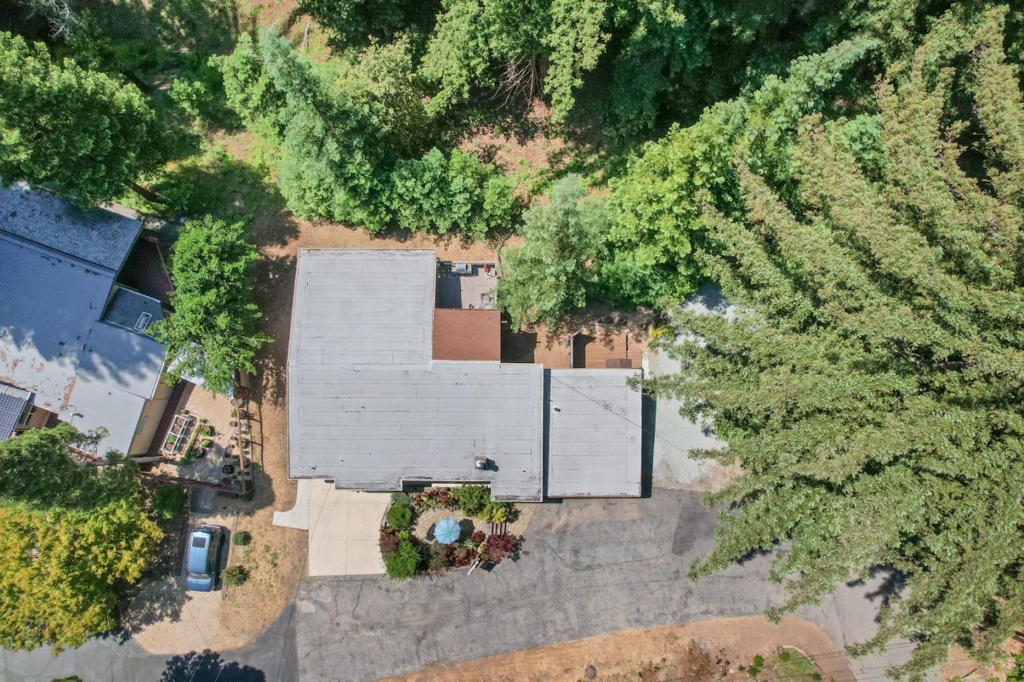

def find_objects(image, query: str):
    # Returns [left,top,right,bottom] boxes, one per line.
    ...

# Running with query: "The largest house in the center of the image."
[286,248,543,503]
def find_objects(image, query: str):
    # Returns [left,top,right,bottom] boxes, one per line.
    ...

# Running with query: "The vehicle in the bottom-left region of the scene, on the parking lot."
[184,524,221,590]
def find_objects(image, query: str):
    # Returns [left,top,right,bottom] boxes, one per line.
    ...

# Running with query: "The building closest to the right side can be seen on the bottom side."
[547,368,642,498]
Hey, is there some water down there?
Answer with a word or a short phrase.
No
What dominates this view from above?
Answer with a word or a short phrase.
trees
